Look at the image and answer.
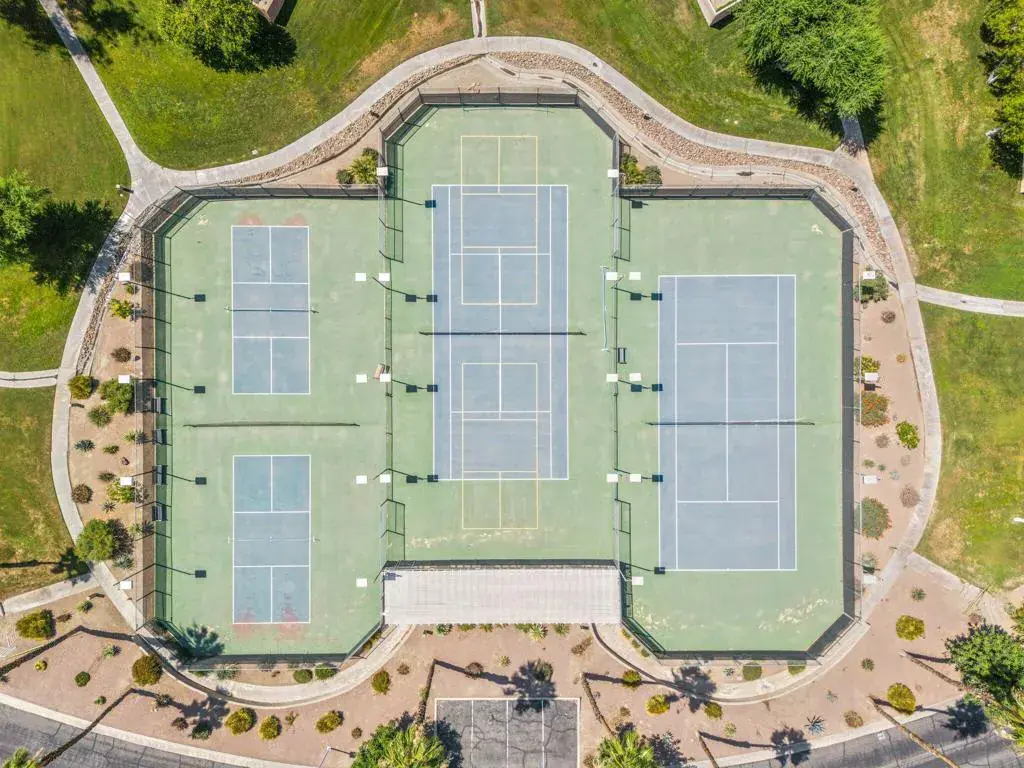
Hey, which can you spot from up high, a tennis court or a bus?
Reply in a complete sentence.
It is a tennis court that can be seen here.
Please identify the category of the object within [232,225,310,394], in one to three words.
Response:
sports court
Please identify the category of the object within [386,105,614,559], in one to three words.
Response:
tennis court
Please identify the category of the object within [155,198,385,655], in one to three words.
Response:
sports court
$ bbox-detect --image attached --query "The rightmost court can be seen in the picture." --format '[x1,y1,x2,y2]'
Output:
[614,198,844,652]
